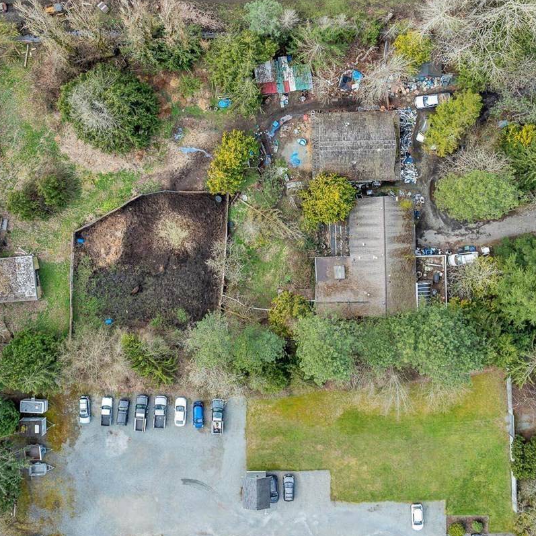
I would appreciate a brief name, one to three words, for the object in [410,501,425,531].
car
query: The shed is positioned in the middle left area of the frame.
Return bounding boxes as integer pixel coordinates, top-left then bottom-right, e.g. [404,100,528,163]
[0,255,41,303]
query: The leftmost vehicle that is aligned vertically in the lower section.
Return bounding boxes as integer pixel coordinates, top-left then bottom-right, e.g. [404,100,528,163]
[78,394,91,424]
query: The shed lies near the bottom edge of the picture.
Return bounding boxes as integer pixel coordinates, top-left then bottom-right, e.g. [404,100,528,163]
[242,471,270,514]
